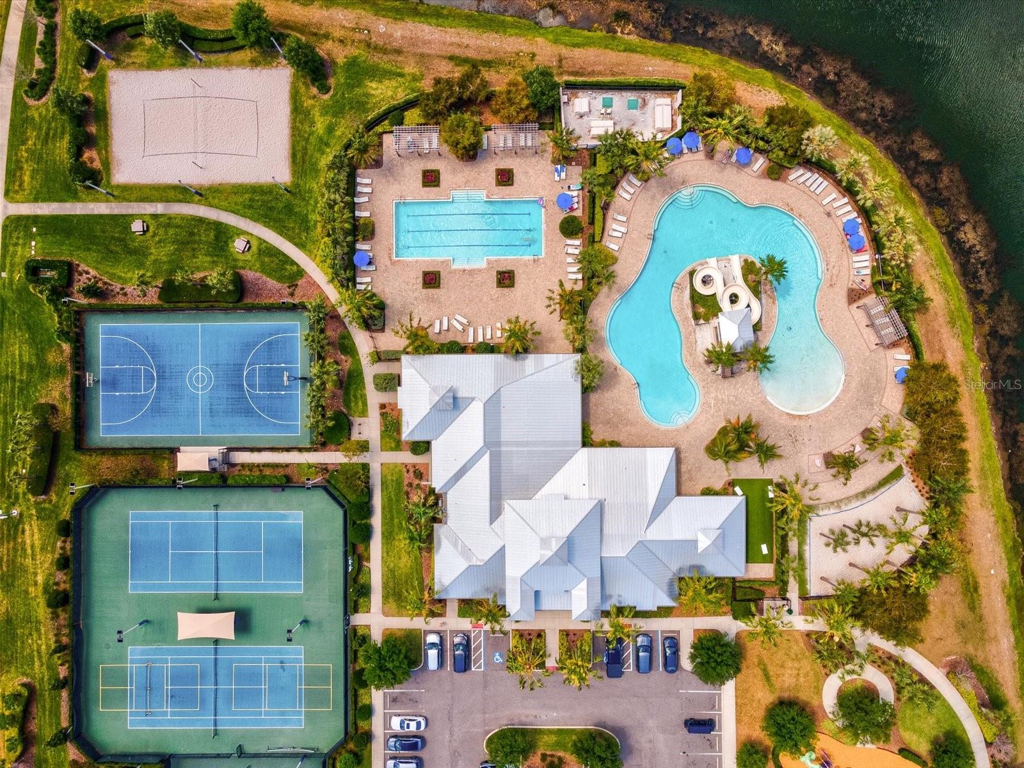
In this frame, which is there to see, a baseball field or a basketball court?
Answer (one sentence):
There is a basketball court in the scene.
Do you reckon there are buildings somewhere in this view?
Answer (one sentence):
Yes, this view includes a building.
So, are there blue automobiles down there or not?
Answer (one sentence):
Yes, looking at the shot, I can spot a blue automobile.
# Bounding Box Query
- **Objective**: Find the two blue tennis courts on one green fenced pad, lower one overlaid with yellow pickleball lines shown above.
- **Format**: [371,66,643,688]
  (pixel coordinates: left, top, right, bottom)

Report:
[81,491,349,768]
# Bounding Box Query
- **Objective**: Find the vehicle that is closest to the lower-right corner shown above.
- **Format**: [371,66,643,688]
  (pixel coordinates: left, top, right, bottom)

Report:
[682,716,715,736]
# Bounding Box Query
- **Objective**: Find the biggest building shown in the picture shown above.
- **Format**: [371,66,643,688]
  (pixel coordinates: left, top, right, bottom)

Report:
[397,354,745,621]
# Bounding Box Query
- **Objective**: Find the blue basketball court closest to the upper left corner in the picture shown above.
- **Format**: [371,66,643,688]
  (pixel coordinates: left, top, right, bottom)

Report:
[84,311,311,447]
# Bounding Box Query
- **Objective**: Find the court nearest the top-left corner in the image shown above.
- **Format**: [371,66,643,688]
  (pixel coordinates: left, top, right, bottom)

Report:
[109,68,291,185]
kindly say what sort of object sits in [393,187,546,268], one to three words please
swimming pool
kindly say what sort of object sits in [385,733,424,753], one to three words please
car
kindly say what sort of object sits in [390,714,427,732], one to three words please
car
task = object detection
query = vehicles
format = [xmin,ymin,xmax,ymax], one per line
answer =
[682,716,715,736]
[425,632,442,671]
[662,635,679,674]
[452,633,469,672]
[383,755,421,768]
[385,733,424,753]
[606,635,623,679]
[390,714,427,732]
[635,632,653,674]
[479,760,501,768]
